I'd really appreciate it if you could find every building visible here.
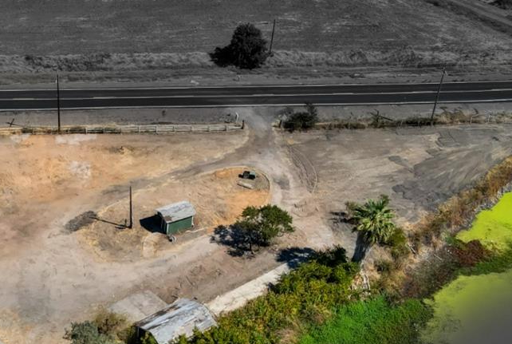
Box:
[148,198,195,233]
[133,297,217,344]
